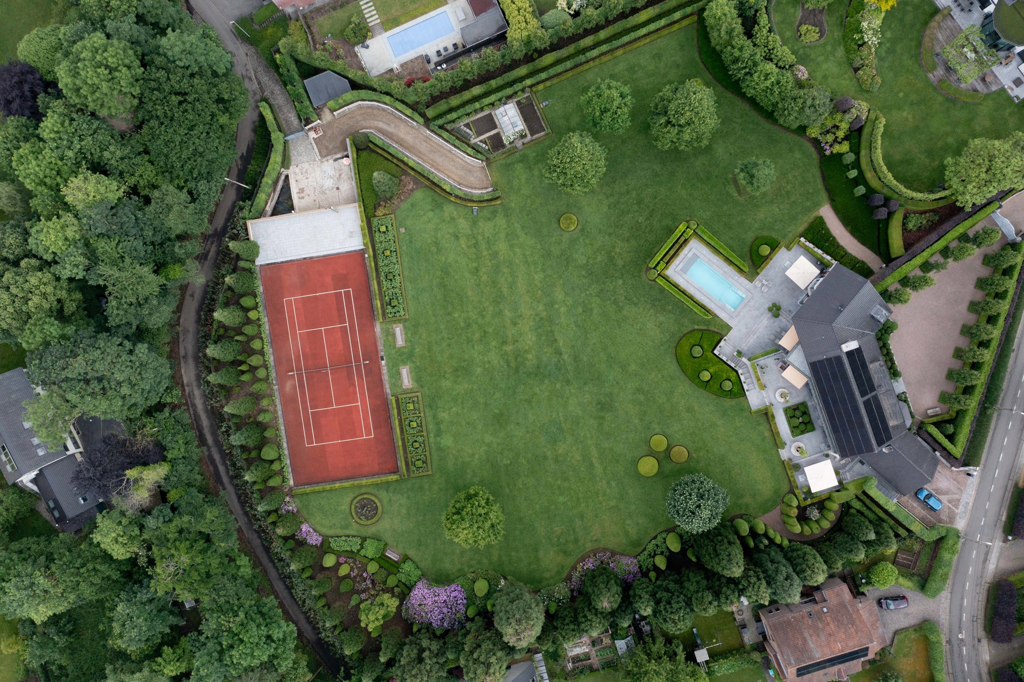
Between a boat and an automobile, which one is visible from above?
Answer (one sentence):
It is an automobile that can be seen here.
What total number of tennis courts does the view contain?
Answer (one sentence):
The picture shows 1 tennis court.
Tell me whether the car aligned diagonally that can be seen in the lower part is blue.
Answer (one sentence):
Yes, the car aligned diagonally that can be seen in the lower part is indeed blue.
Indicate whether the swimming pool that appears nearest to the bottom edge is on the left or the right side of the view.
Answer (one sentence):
You can find the swimming pool that appears nearest to the bottom edge on the right side of the picture.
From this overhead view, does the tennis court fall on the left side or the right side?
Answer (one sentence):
It is on the left.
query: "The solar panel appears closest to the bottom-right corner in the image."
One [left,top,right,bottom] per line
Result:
[797,648,869,673]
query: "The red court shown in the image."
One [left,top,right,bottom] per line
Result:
[257,249,402,489]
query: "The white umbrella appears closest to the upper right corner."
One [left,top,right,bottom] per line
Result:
[783,255,820,290]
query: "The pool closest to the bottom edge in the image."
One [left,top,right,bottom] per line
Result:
[672,245,755,321]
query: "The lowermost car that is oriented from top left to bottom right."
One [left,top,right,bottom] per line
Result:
[915,488,946,513]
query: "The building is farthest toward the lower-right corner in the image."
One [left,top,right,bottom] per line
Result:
[756,580,888,682]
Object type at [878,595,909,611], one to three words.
car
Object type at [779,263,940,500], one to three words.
house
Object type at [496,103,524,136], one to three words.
greenhouse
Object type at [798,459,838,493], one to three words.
umbrella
